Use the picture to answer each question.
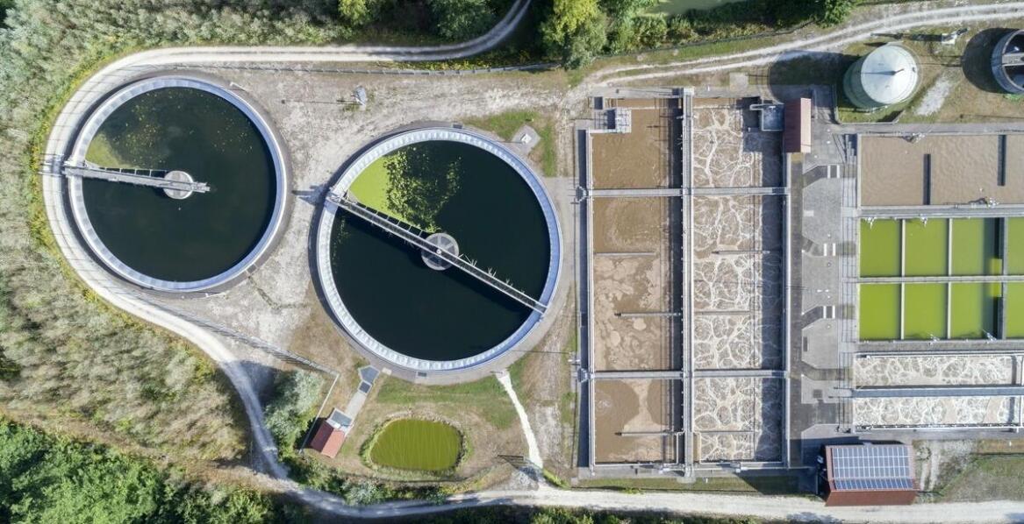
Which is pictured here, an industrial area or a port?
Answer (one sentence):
The picture captures an industrial area.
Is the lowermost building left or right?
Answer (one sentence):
The lowermost building sits on the right side.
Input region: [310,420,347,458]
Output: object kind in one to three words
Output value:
shed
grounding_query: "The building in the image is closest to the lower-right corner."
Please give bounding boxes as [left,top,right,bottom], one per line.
[817,440,921,506]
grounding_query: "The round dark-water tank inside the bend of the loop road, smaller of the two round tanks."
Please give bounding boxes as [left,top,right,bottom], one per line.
[66,75,284,291]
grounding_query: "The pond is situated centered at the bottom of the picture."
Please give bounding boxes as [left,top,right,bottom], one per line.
[371,419,459,467]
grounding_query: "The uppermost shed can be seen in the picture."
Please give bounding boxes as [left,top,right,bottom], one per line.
[777,98,812,154]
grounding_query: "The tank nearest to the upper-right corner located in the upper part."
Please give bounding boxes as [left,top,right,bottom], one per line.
[991,29,1024,95]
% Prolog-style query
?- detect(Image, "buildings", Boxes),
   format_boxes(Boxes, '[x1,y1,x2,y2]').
[817,440,921,506]
[310,420,347,458]
[777,98,812,154]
